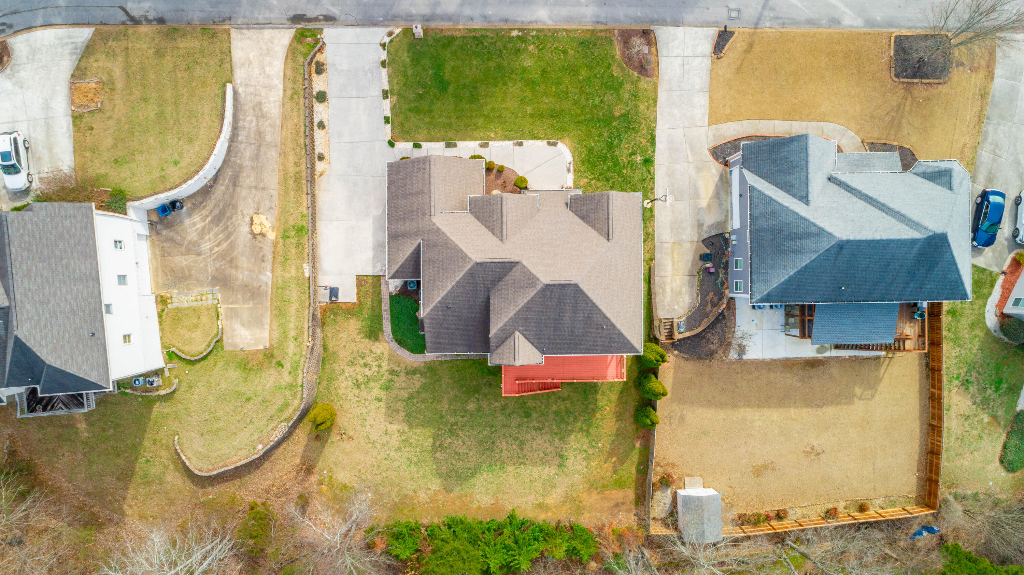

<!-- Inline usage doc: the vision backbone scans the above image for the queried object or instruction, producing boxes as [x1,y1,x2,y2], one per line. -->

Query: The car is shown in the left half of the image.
[0,131,35,193]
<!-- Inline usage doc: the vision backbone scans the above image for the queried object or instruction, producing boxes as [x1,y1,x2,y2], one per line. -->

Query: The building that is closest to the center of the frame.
[385,155,643,366]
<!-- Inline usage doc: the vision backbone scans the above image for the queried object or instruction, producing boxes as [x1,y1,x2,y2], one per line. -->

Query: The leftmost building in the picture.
[0,199,166,396]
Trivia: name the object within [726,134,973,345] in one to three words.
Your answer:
house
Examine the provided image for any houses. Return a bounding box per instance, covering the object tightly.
[1000,267,1024,319]
[385,155,643,366]
[726,134,973,345]
[0,199,166,396]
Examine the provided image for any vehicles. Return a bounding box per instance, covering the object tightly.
[0,131,35,193]
[971,192,1008,247]
[1014,191,1024,246]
